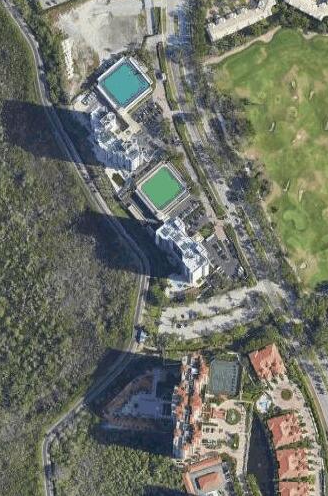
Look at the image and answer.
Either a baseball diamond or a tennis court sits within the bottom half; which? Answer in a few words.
tennis court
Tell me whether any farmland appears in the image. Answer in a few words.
No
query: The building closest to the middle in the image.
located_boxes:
[154,217,209,284]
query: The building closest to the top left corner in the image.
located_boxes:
[97,57,152,111]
